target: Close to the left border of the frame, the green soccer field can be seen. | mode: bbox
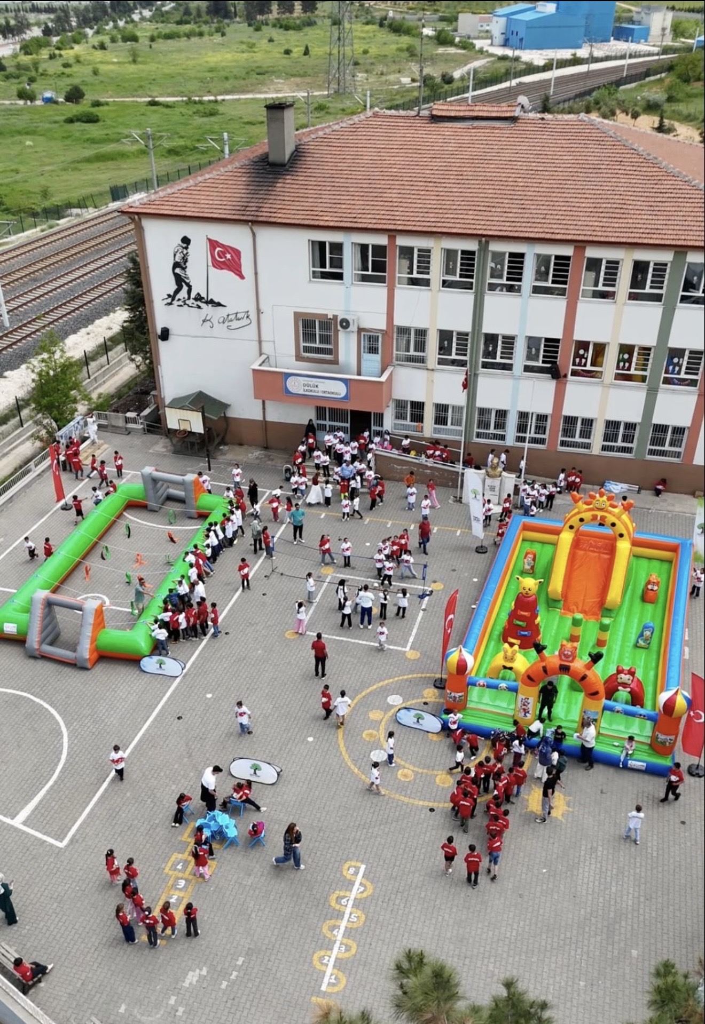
[0,476,236,666]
